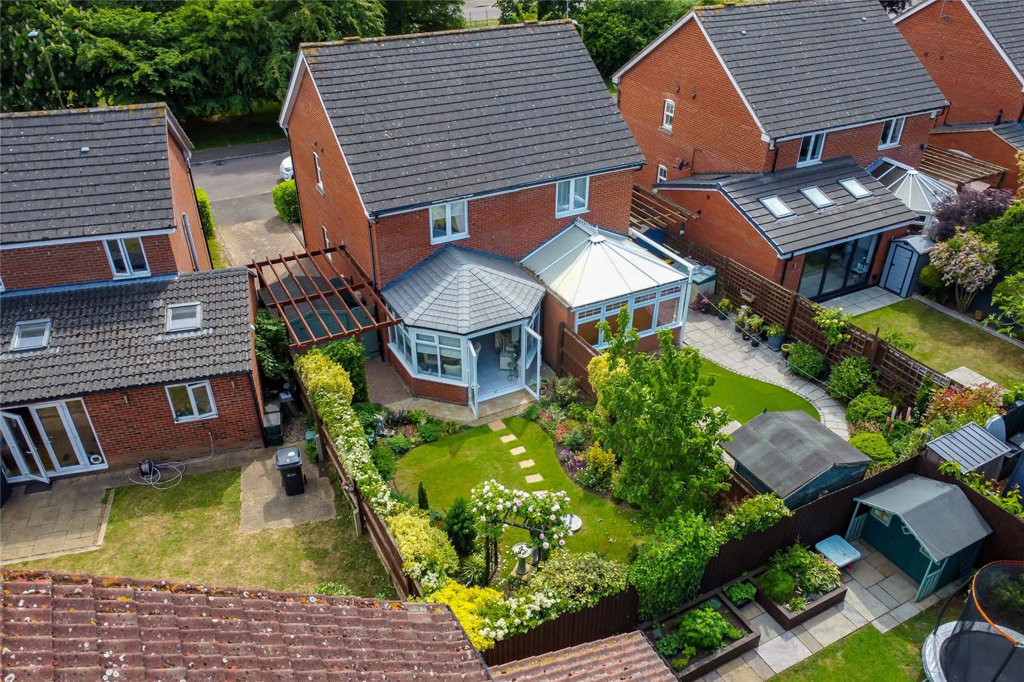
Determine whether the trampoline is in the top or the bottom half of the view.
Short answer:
bottom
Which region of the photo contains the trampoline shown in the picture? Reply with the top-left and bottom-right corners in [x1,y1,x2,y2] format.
[917,565,1024,682]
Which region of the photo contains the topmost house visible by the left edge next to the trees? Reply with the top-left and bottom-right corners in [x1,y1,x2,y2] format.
[0,100,264,493]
